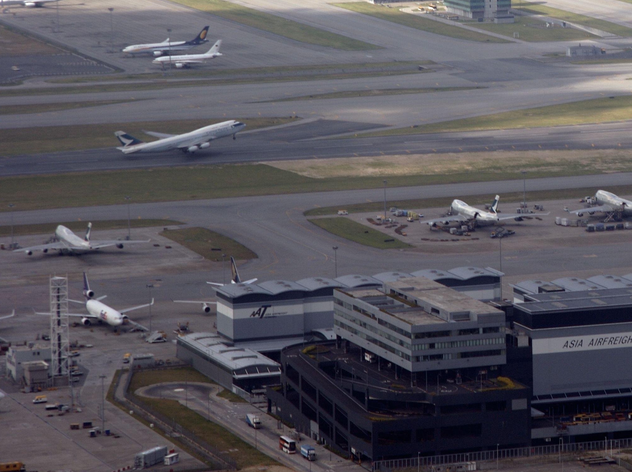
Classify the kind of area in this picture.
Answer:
airport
